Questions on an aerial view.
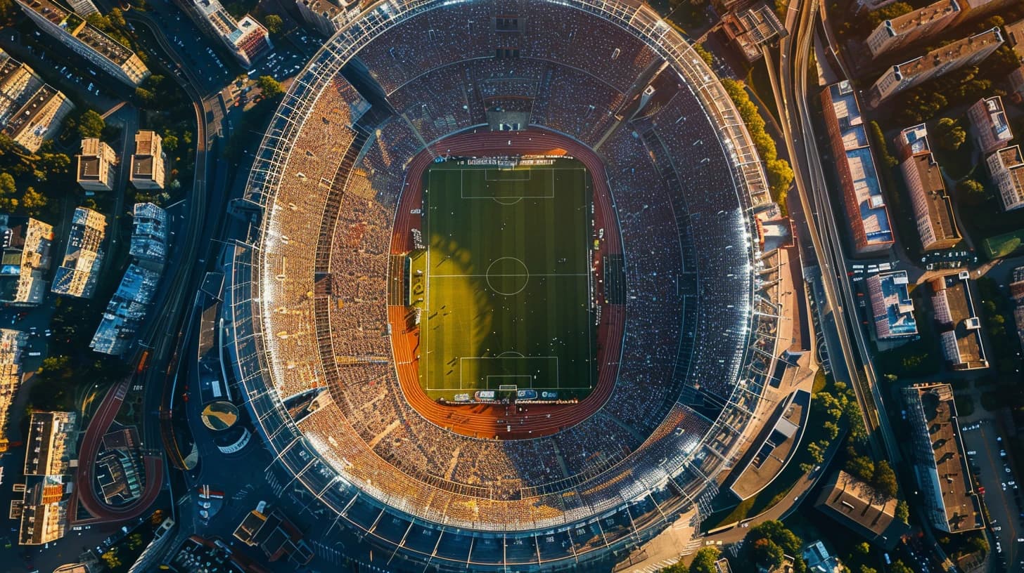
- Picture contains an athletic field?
Yes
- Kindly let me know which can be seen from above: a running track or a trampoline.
running track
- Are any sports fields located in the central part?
Yes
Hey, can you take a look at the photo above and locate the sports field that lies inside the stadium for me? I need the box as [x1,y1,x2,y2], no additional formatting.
[426,167,591,390]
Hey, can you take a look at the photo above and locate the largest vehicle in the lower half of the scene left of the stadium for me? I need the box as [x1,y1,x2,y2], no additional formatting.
[137,351,151,374]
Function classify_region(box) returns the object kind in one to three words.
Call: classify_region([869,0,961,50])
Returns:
building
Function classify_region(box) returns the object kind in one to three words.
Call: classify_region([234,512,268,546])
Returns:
house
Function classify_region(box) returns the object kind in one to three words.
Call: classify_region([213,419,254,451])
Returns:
building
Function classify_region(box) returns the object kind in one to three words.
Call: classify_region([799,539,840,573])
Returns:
house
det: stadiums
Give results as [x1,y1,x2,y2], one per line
[226,0,786,573]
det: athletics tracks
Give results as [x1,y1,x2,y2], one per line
[389,132,626,439]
